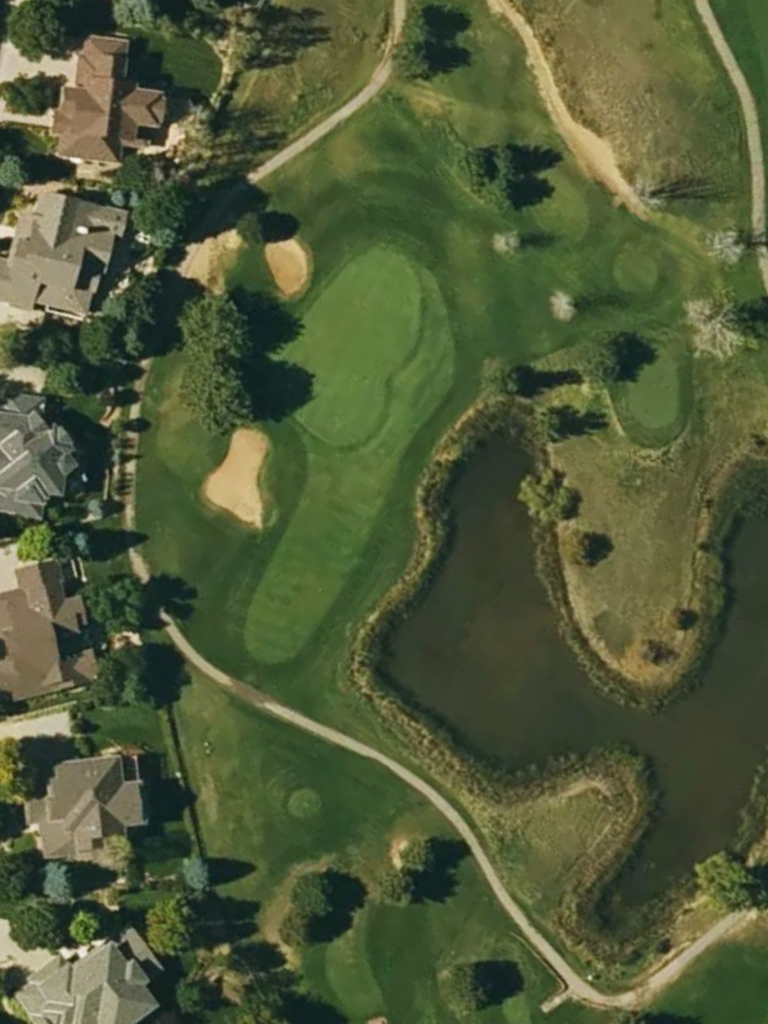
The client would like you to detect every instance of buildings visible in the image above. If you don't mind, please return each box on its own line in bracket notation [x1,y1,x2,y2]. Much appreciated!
[27,756,153,876]
[0,553,98,708]
[52,33,166,167]
[0,389,83,526]
[13,933,164,1024]
[0,185,130,314]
